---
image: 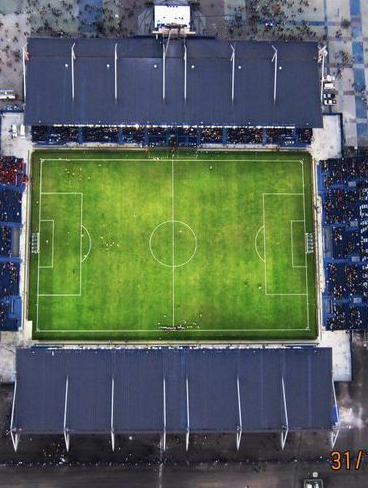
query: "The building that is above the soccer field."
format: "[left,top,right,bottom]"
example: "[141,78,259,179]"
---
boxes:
[139,0,207,48]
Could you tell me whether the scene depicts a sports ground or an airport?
sports ground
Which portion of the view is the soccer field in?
center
